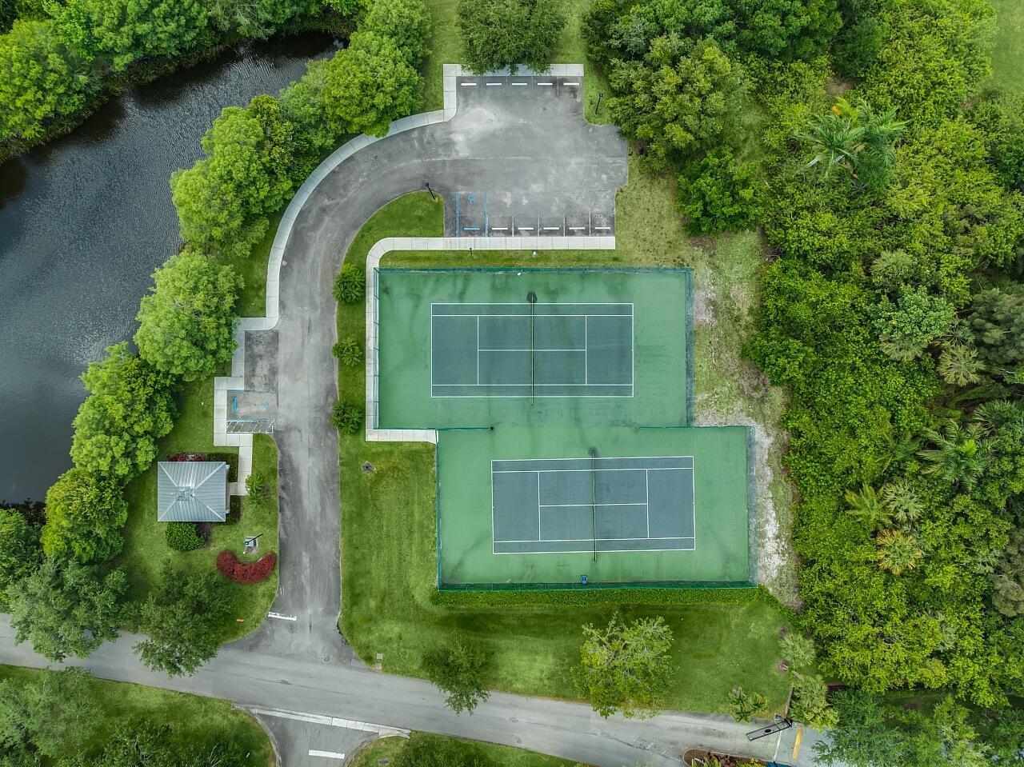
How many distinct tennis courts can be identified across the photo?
2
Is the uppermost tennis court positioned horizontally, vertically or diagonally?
horizontally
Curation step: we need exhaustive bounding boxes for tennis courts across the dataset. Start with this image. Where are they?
[379,273,687,430]
[438,428,750,585]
